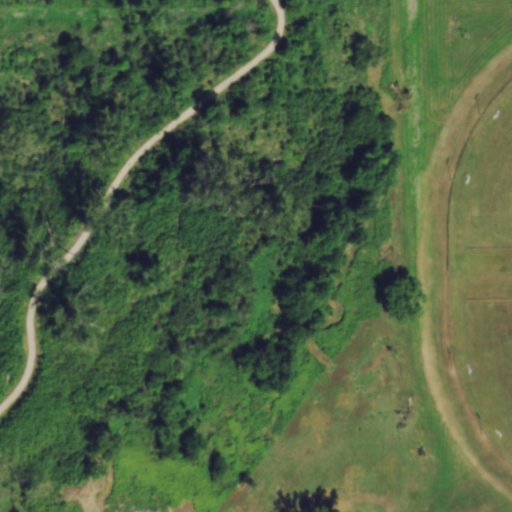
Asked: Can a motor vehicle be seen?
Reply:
No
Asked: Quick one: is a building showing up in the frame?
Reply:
No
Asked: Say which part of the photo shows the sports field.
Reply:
right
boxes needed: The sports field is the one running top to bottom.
[446,81,512,468]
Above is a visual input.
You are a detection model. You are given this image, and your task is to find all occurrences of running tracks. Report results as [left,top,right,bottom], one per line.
[420,46,512,501]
